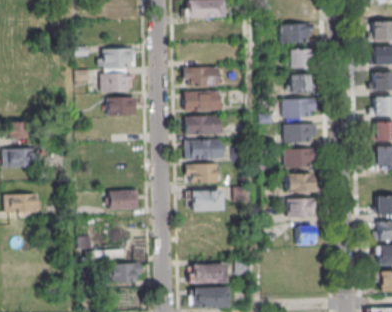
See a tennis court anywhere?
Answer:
No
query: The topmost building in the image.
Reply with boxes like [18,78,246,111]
[184,0,227,19]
